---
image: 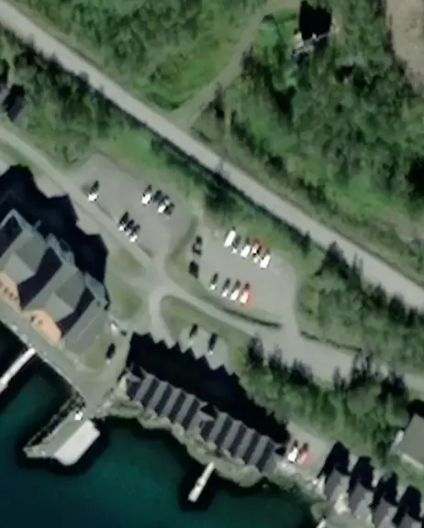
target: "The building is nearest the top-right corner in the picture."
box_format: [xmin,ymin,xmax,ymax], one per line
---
[294,20,334,62]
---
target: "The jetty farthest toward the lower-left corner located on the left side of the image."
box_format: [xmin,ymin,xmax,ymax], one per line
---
[55,423,100,465]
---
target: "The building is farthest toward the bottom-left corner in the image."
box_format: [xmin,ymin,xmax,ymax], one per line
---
[125,376,208,436]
